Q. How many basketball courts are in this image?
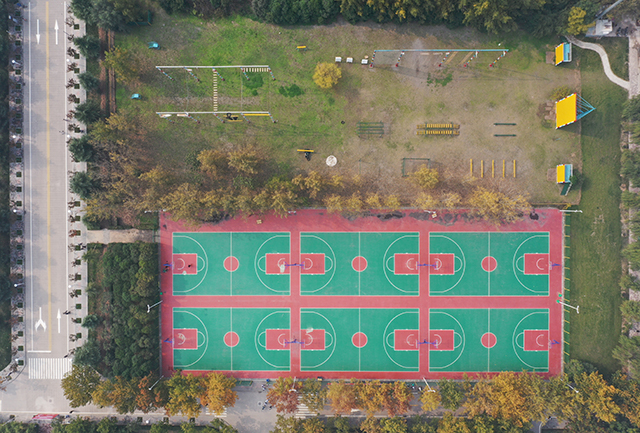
6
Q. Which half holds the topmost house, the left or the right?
right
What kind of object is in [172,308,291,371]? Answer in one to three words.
basketball court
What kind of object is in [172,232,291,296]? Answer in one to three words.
basketball court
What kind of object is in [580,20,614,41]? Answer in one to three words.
house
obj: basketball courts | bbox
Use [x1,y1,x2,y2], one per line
[172,232,291,296]
[301,232,419,296]
[429,232,549,296]
[172,308,291,371]
[301,308,419,371]
[429,308,549,371]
